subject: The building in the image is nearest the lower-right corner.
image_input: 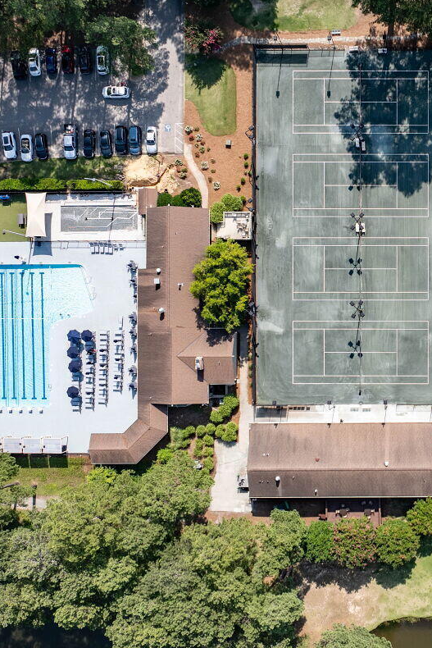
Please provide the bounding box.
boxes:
[246,422,432,499]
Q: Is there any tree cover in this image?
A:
Yes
